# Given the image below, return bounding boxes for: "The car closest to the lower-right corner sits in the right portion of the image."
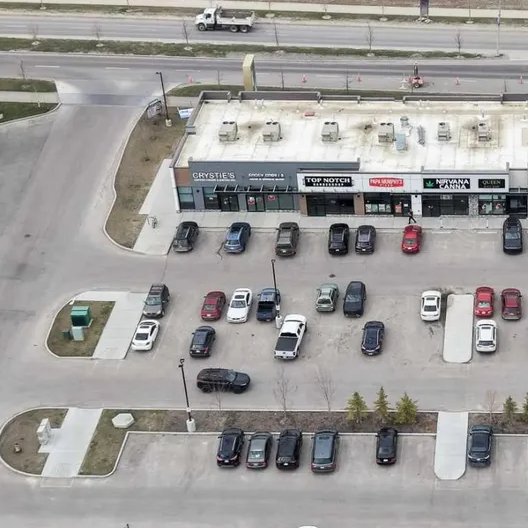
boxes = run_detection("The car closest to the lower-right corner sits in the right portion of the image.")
[467,428,494,469]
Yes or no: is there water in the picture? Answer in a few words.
No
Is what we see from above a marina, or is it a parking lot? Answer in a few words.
parking lot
